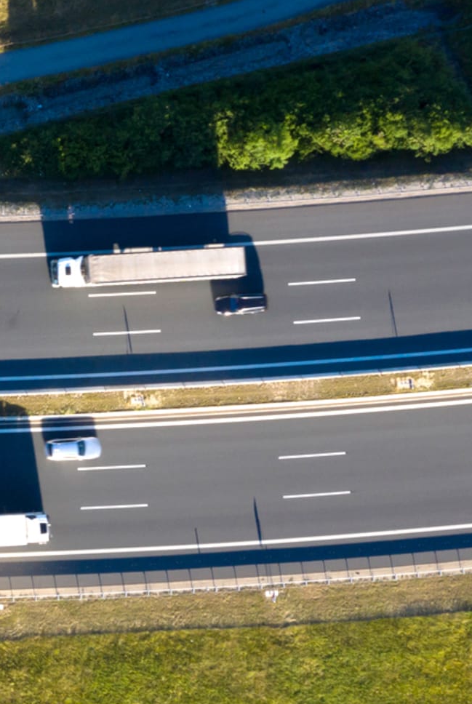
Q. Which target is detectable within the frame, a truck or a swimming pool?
truck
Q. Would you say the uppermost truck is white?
Yes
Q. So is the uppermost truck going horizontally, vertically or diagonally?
horizontally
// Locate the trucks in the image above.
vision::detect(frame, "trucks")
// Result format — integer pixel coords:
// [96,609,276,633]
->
[0,509,50,546]
[48,248,247,293]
